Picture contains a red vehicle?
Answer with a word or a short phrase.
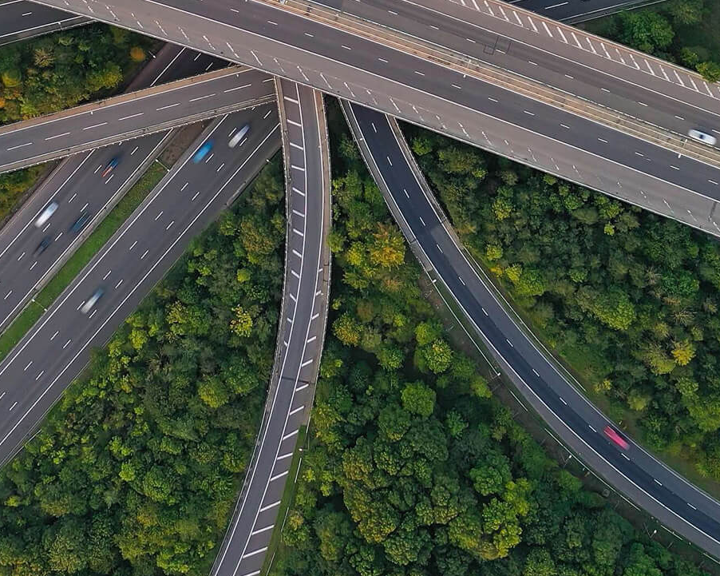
Yes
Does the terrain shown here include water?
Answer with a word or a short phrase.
No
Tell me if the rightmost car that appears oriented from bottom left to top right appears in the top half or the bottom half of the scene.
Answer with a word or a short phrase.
top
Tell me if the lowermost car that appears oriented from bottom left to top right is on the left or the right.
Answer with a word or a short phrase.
left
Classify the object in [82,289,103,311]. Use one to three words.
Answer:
car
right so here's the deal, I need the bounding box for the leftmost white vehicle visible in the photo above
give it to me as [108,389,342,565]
[33,203,58,228]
